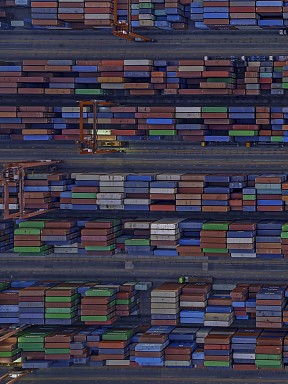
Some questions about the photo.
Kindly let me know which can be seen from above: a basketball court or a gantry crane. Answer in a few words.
gantry crane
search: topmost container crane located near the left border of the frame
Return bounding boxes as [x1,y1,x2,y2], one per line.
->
[0,161,57,220]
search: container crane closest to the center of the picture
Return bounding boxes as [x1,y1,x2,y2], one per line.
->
[73,101,124,156]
